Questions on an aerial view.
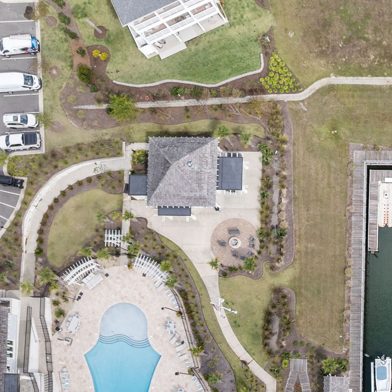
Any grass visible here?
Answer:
Yes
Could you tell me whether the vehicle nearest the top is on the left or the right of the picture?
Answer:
left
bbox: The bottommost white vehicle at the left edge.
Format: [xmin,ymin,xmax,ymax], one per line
[0,132,44,152]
